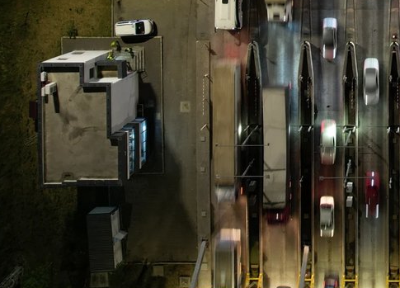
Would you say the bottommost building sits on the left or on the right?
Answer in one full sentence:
It is on the left.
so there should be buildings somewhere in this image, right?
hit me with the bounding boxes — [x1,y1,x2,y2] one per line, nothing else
[87,206,132,278]
[41,44,151,187]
